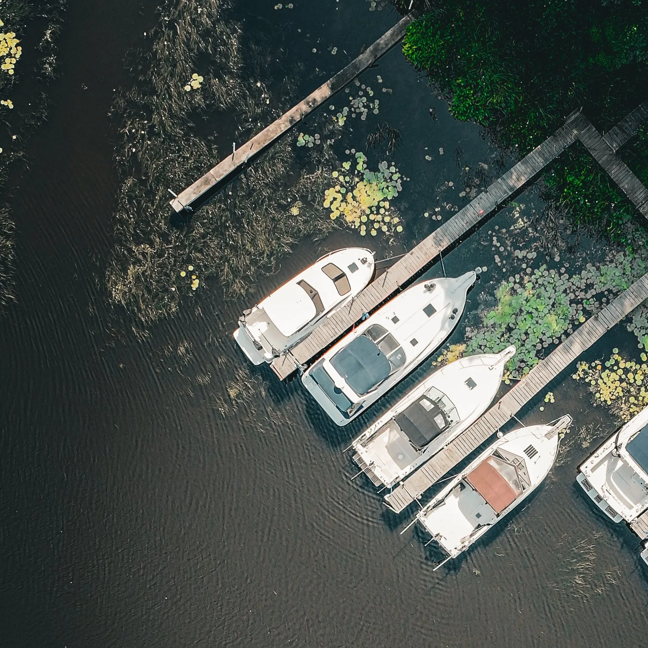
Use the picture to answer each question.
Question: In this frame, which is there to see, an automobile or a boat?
boat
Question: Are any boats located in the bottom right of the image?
Yes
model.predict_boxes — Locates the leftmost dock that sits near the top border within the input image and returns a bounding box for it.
[166,0,422,215]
